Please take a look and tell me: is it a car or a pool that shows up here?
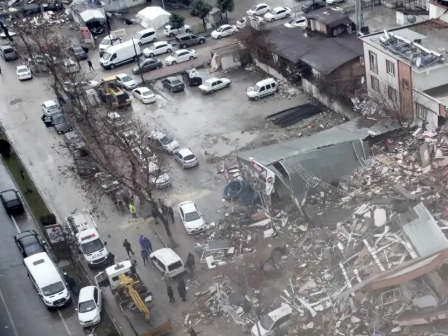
car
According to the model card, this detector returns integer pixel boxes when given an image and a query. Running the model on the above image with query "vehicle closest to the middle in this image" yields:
[173,148,198,171]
